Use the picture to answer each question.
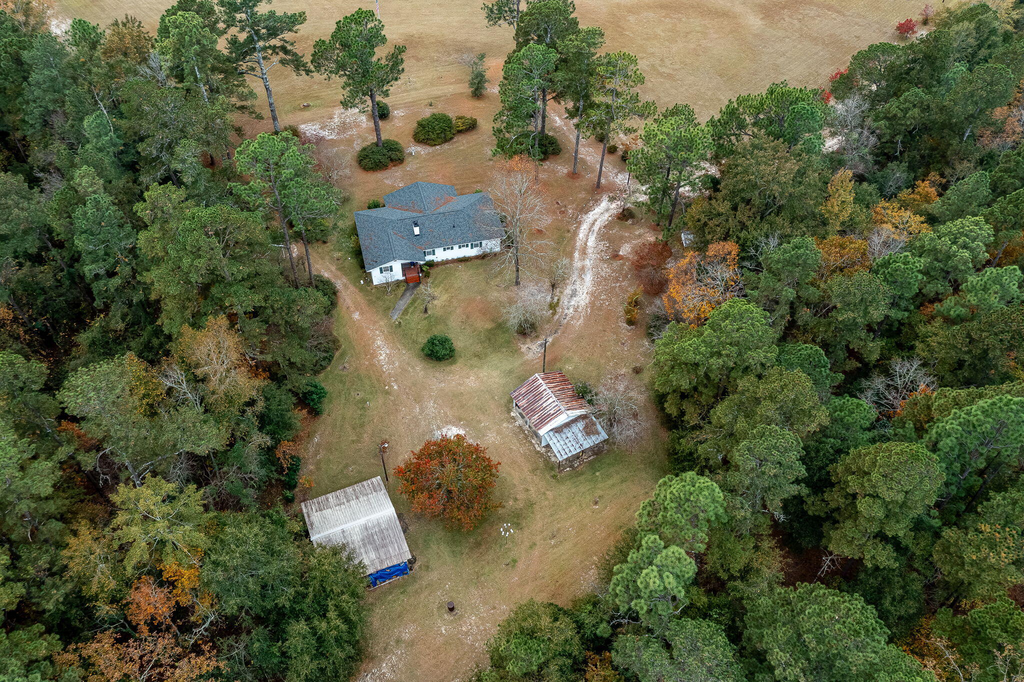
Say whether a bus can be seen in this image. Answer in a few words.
No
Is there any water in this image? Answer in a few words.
No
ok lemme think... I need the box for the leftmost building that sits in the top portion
[354,183,507,284]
